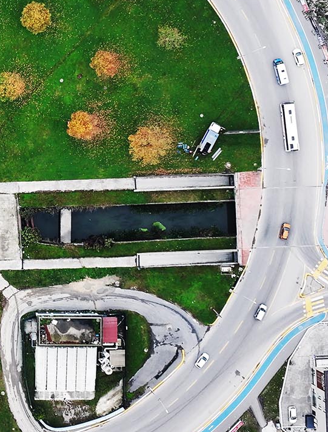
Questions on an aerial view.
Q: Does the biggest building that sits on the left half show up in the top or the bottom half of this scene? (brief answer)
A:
bottom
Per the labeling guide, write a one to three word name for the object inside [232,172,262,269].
bridge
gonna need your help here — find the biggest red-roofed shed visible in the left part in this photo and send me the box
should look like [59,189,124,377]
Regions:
[102,316,117,343]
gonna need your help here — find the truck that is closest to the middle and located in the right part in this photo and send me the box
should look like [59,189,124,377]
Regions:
[194,121,223,156]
